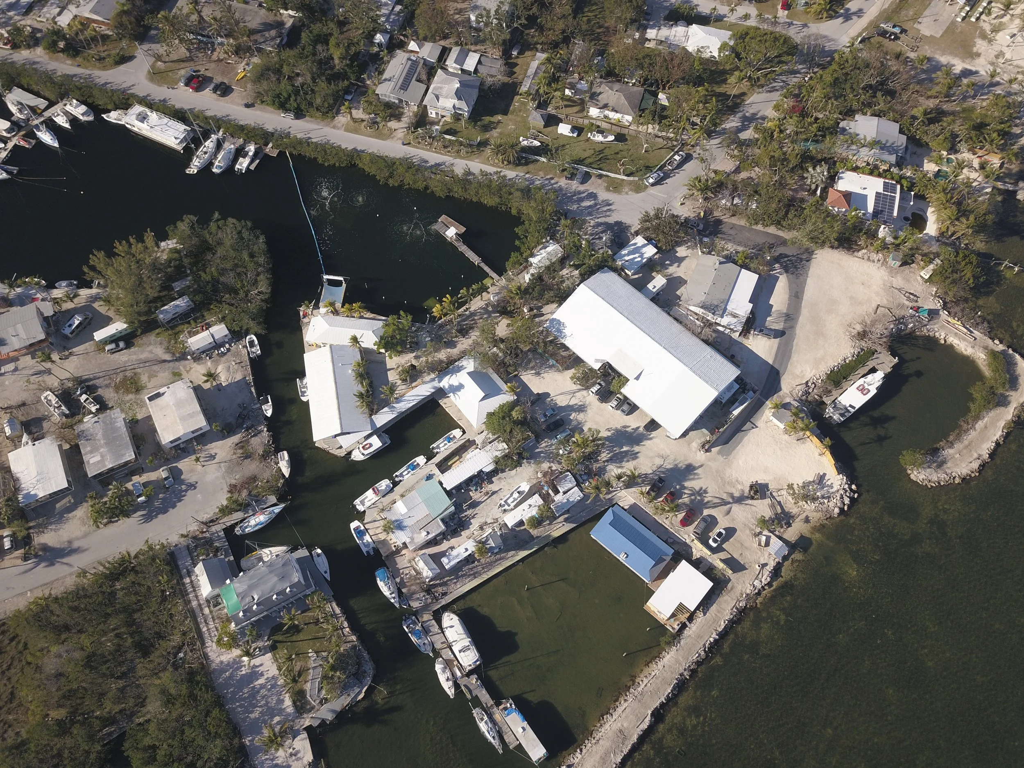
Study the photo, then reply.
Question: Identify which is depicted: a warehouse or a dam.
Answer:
warehouse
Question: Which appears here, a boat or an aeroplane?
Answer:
boat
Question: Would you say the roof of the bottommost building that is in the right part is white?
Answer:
Yes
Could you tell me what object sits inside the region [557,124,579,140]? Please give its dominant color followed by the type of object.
white vehicle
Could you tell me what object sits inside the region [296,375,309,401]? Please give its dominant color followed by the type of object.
white boat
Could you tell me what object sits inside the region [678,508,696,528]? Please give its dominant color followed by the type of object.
red car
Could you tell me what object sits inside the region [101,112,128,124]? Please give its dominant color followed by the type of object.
white boat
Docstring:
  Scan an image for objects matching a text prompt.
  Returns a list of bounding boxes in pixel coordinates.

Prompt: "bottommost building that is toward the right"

[644,560,713,632]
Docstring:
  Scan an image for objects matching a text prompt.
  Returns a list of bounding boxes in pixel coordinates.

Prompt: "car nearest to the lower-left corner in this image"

[1,531,17,553]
